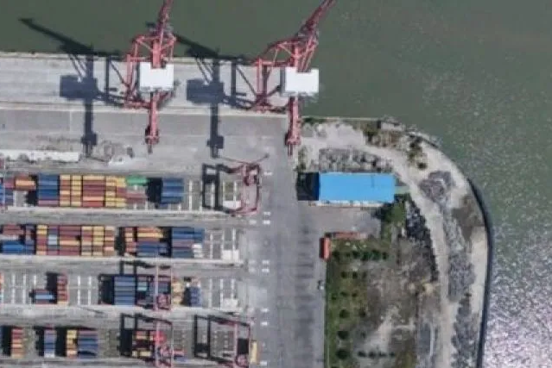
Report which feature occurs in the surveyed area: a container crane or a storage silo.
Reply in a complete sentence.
Visible in the photo is a container crane.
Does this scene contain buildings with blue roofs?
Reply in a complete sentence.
Yes, the frame does contain a building with a blue roof.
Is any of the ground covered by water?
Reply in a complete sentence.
Yes, water shows up in the scene.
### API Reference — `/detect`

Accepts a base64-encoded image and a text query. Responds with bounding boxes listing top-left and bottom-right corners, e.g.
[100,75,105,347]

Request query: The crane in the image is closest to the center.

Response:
[226,161,261,217]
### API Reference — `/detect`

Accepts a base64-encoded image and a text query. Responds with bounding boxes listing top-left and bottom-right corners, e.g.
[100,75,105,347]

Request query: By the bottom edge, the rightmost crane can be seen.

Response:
[219,317,254,368]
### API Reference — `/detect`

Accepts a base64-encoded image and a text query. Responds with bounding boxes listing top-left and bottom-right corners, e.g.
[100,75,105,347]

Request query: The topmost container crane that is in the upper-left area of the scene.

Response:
[118,0,177,163]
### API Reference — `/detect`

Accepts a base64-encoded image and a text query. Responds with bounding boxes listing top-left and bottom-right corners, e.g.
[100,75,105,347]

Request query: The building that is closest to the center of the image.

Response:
[312,173,395,211]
